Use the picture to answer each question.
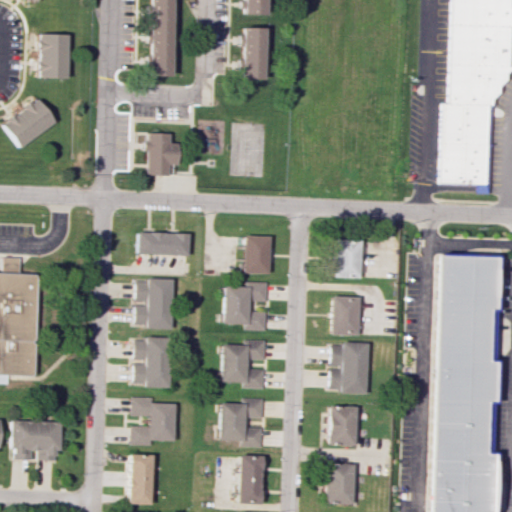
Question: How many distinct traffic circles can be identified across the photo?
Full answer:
Not a single traffic circle can be seen.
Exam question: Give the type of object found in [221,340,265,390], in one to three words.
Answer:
house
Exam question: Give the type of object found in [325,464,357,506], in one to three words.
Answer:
house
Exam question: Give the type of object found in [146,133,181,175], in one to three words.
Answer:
building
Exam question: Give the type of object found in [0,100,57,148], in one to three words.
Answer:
building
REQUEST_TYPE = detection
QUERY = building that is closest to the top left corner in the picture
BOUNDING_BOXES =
[36,34,70,79]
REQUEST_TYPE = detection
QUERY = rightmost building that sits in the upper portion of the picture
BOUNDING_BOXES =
[438,0,512,194]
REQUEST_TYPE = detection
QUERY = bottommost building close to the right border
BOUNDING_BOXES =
[431,254,504,512]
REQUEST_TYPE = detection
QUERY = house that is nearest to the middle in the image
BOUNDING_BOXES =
[244,236,270,274]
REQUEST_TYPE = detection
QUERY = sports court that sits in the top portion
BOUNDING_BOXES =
[231,123,264,178]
